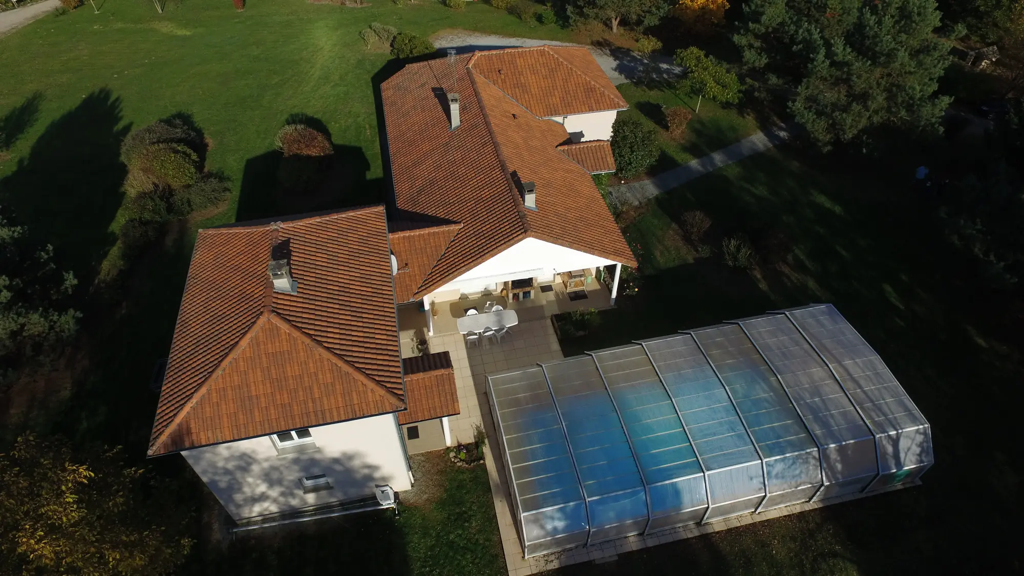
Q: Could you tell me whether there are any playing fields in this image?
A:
No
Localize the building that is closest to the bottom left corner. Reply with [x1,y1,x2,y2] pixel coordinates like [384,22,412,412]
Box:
[140,201,415,521]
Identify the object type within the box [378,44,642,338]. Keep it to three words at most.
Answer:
house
